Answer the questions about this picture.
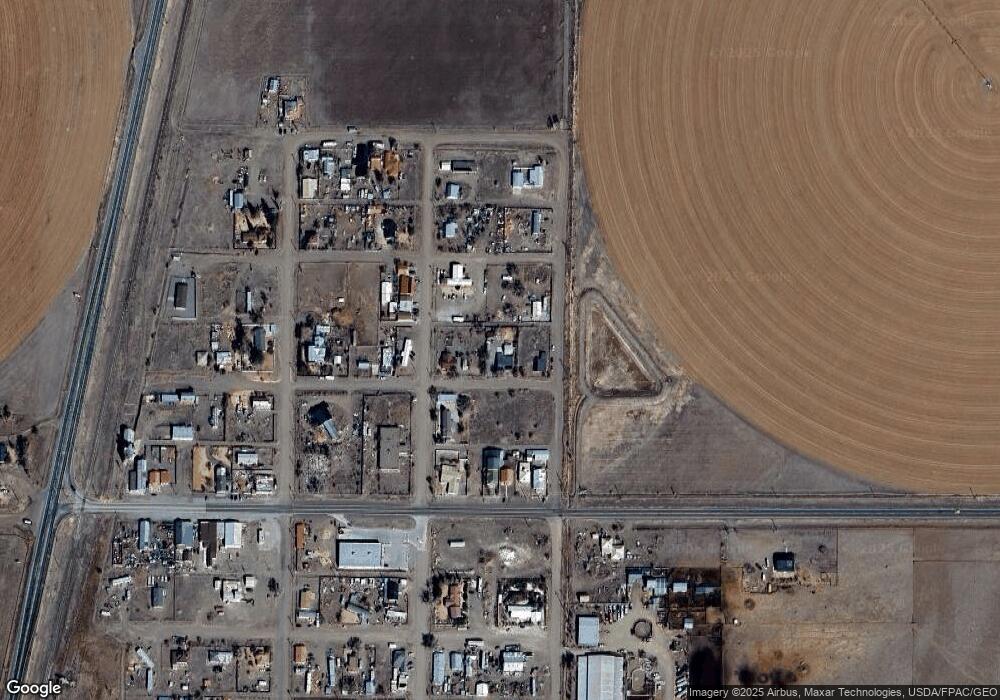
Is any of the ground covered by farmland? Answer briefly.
Yes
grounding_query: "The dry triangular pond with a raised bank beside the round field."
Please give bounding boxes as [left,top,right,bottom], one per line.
[578,291,668,402]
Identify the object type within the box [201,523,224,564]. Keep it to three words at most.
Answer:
building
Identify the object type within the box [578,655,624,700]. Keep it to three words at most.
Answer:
barn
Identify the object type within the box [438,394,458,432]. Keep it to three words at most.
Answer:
house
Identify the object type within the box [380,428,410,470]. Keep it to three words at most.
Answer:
shed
